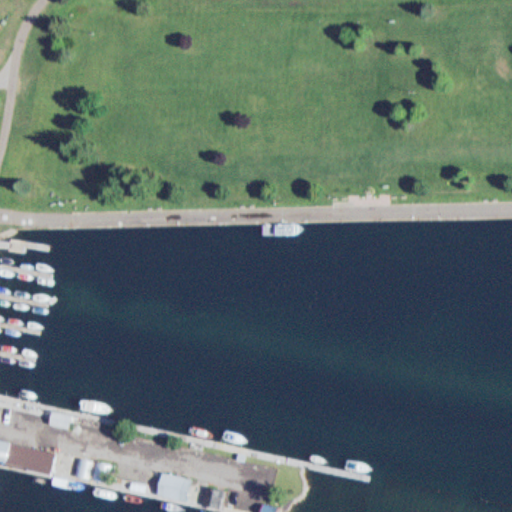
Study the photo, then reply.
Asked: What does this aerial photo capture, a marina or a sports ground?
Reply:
marina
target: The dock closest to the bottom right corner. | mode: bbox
[304,460,372,483]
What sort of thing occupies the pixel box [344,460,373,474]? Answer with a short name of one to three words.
boat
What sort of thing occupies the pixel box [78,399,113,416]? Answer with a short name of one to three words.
boat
